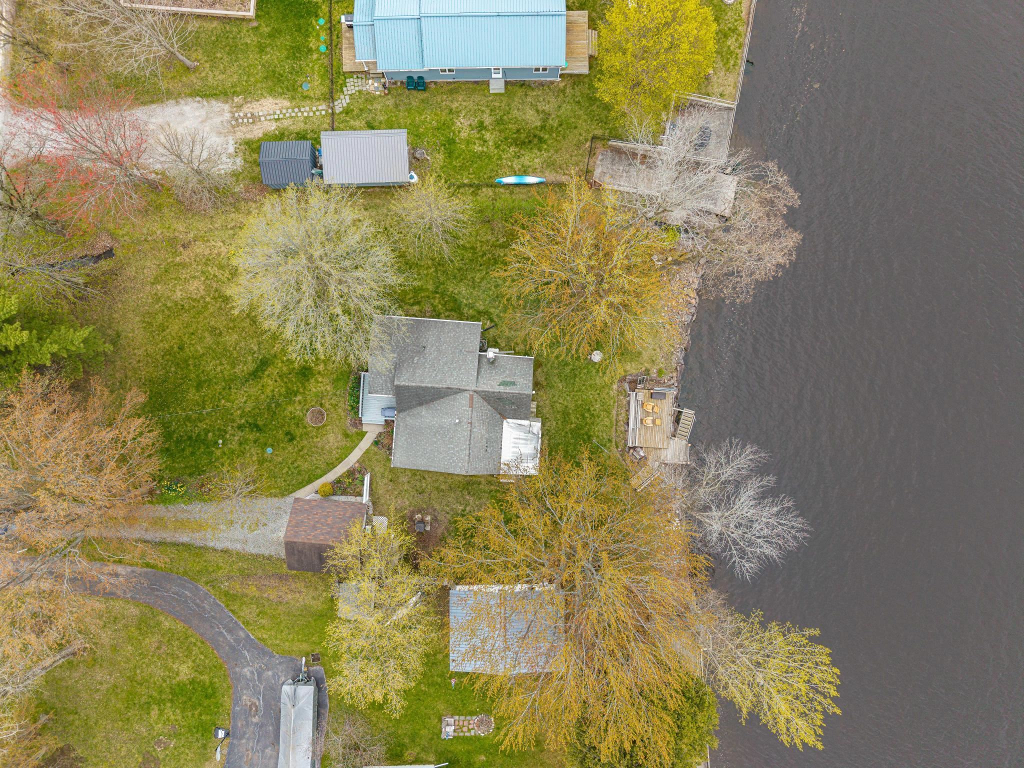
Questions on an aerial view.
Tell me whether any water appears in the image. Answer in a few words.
Yes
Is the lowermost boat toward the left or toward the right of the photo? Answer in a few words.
left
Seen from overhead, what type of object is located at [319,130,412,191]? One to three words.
shed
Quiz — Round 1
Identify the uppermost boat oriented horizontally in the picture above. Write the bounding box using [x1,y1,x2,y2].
[495,173,546,185]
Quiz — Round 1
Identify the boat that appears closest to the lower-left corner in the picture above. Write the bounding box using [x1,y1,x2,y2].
[283,668,322,768]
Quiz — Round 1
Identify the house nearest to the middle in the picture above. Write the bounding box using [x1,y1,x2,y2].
[361,315,544,477]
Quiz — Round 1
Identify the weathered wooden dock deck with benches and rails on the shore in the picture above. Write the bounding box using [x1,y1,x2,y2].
[628,389,699,476]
